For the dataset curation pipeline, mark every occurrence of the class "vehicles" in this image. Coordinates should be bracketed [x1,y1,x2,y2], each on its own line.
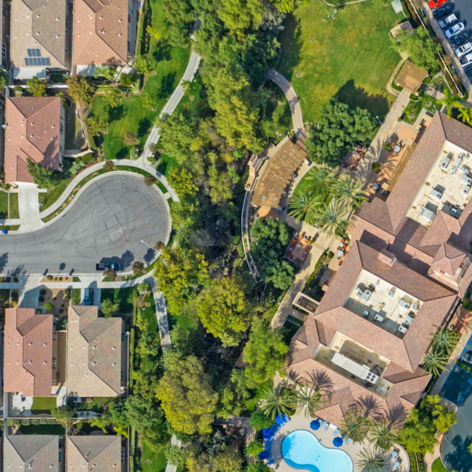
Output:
[83,286,93,307]
[458,52,472,68]
[429,0,450,11]
[97,261,122,271]
[453,41,472,58]
[432,5,454,20]
[449,31,470,47]
[462,352,472,363]
[444,23,465,38]
[435,12,459,30]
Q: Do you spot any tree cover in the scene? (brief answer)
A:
Yes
